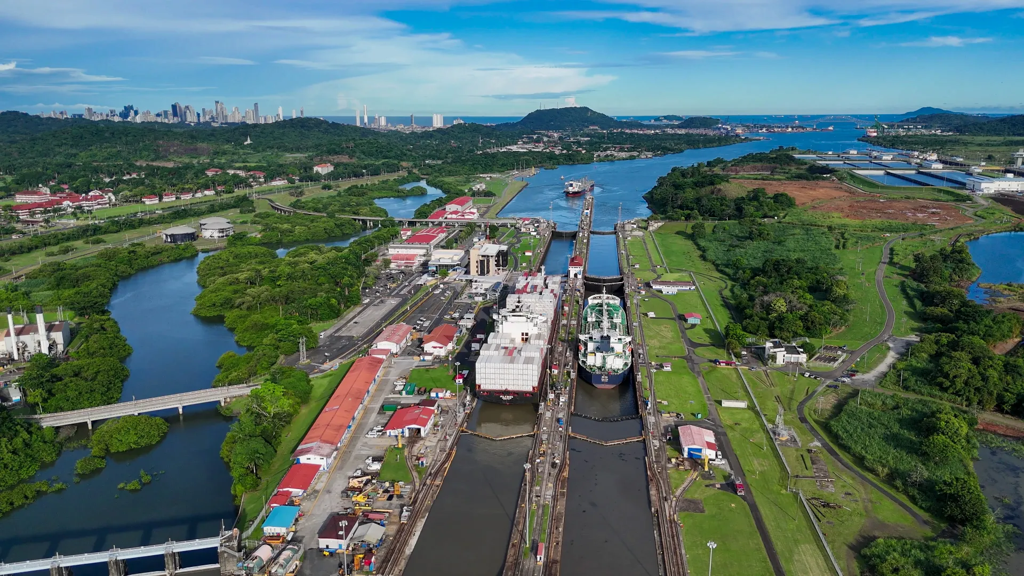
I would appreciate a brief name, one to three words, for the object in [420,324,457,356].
building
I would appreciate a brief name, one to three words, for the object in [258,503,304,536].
shed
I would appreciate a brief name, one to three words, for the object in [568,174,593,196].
ship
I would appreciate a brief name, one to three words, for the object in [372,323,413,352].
building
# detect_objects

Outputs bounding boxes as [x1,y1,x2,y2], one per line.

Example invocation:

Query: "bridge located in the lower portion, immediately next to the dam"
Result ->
[0,385,252,430]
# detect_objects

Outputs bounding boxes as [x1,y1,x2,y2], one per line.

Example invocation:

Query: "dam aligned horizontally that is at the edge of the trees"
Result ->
[0,515,257,576]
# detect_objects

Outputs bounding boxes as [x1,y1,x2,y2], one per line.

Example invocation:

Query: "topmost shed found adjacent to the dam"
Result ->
[288,355,393,470]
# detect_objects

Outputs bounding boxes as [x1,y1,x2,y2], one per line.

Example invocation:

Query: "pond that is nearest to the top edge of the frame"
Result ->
[965,231,1024,295]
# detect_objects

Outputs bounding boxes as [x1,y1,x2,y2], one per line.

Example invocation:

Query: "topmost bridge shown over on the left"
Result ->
[260,198,515,229]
